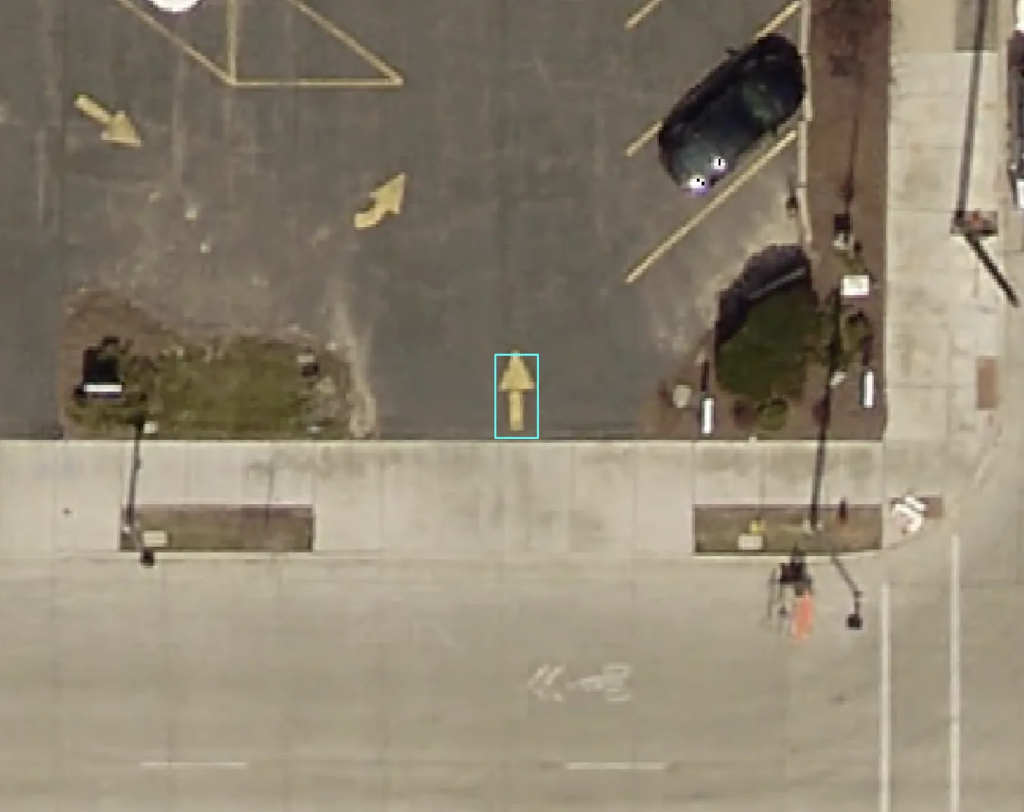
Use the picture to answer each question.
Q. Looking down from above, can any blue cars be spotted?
No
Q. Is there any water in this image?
No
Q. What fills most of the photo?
paved ground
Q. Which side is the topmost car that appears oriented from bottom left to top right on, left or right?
right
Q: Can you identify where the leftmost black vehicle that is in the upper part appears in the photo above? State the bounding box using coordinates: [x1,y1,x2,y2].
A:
[661,51,809,196]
